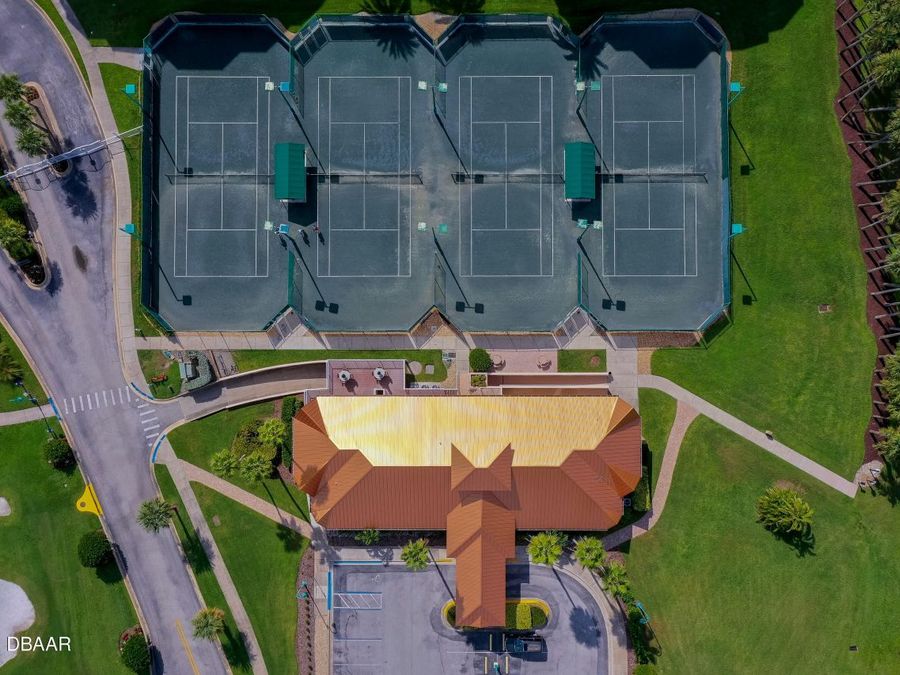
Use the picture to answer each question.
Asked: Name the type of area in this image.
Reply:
sports ground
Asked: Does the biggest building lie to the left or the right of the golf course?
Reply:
to the right of it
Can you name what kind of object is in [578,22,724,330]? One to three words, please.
tennis court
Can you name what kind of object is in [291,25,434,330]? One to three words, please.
tennis court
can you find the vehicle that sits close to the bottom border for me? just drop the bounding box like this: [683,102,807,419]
[503,636,549,659]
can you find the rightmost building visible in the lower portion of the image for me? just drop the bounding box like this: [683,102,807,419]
[292,396,642,628]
